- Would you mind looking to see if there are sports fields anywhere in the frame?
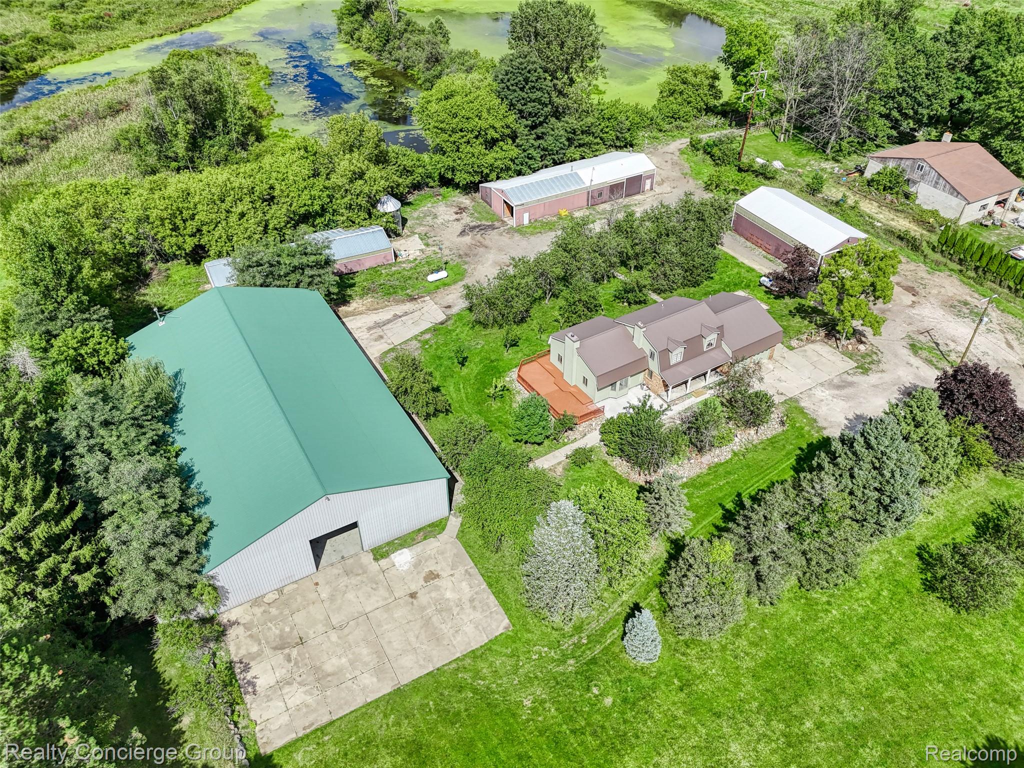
No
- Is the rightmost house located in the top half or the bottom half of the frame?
top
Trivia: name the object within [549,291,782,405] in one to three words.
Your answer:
house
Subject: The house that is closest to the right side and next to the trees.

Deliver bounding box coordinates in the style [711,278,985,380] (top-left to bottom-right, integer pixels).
[862,128,1024,225]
